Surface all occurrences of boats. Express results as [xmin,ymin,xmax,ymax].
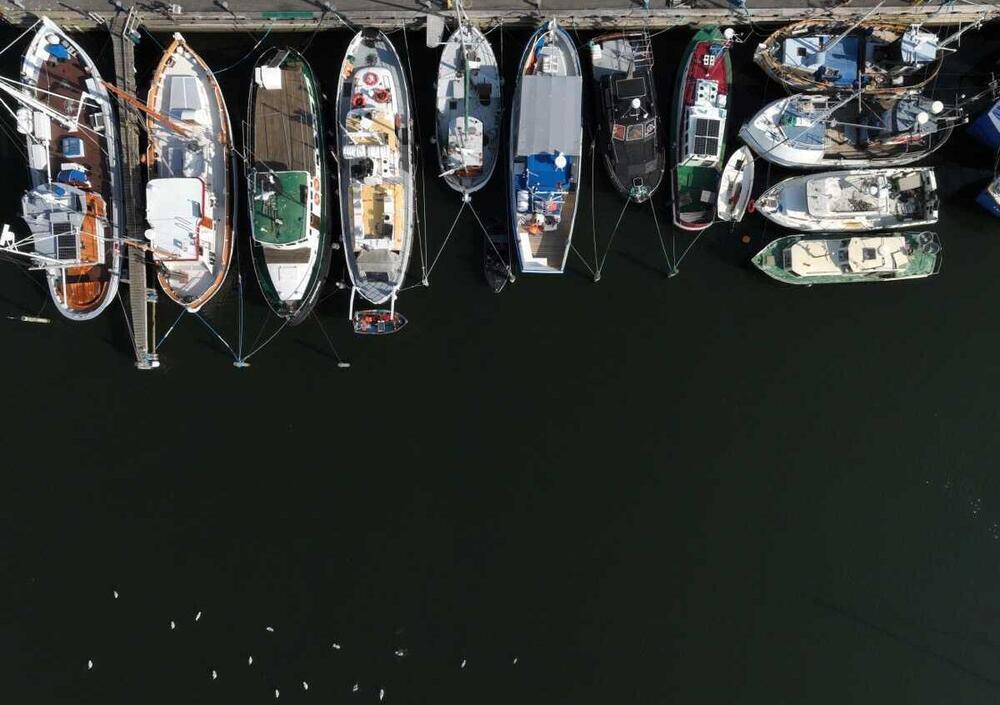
[743,0,1000,97]
[354,310,408,335]
[955,179,1000,215]
[753,167,940,232]
[668,25,752,231]
[236,47,331,319]
[747,232,942,285]
[337,27,417,320]
[437,0,500,205]
[718,149,755,227]
[509,17,583,272]
[591,30,666,206]
[731,76,996,169]
[0,16,131,321]
[947,98,1000,150]
[107,32,241,311]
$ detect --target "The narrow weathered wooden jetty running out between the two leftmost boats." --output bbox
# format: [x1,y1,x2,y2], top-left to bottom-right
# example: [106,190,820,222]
[112,6,163,368]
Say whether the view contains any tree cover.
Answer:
No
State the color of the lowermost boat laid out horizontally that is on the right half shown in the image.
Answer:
white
